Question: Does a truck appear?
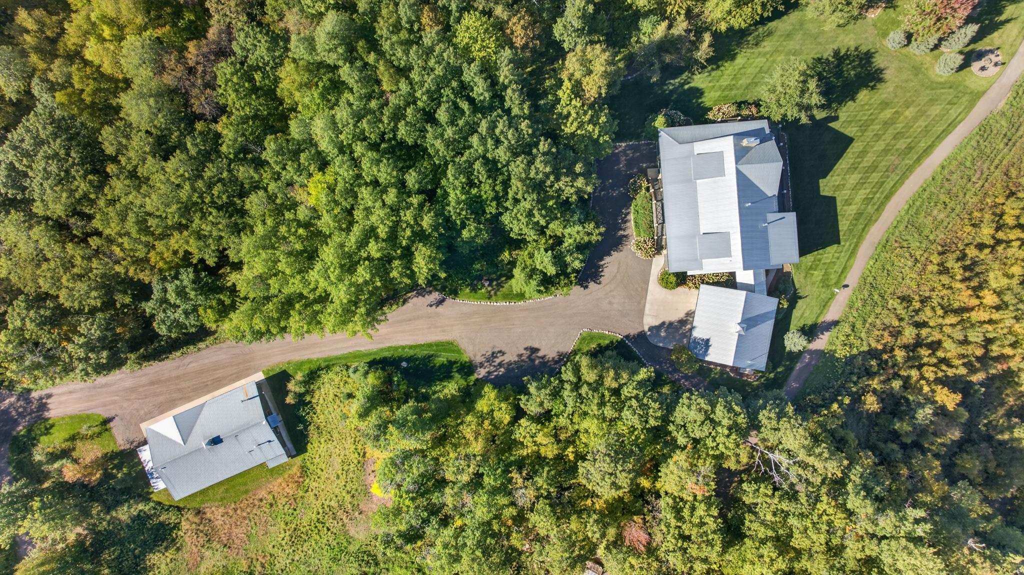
No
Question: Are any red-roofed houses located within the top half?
No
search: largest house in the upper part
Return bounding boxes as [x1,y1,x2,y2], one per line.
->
[654,120,800,275]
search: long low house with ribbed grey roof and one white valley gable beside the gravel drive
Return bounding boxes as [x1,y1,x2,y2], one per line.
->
[146,381,289,501]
